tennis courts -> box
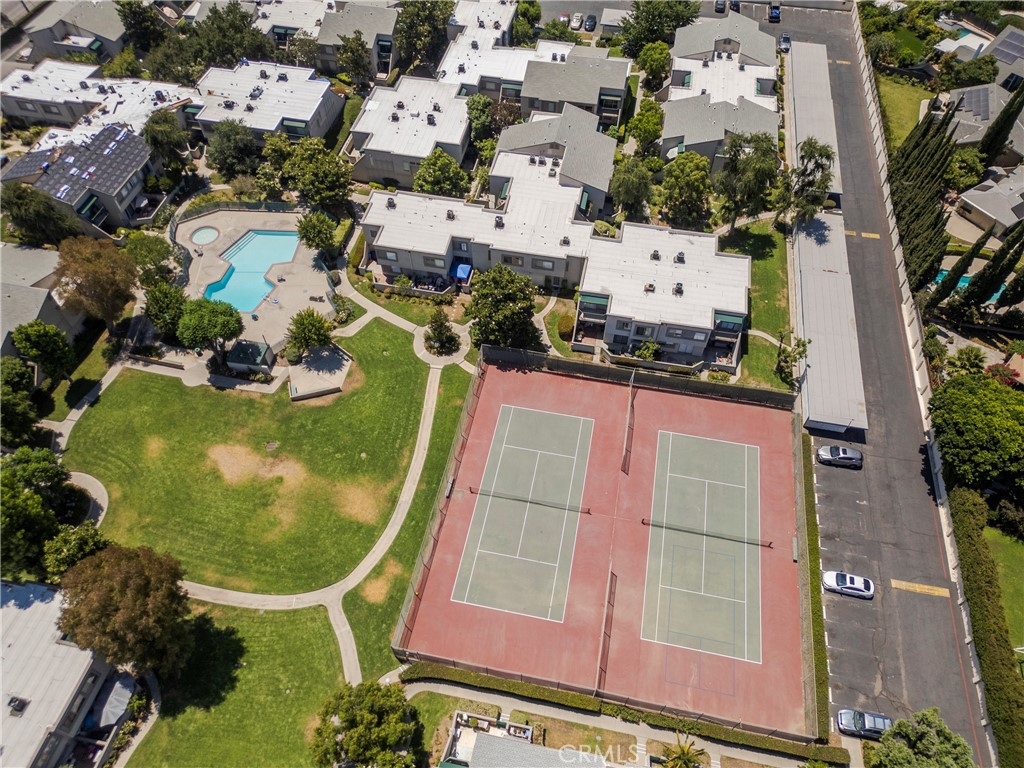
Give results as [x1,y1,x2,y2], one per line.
[398,362,638,690]
[596,385,806,735]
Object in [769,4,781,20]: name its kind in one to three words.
vehicle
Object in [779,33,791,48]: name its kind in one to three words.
vehicle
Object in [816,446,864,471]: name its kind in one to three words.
car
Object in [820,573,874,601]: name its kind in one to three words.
car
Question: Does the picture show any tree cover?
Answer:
Yes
